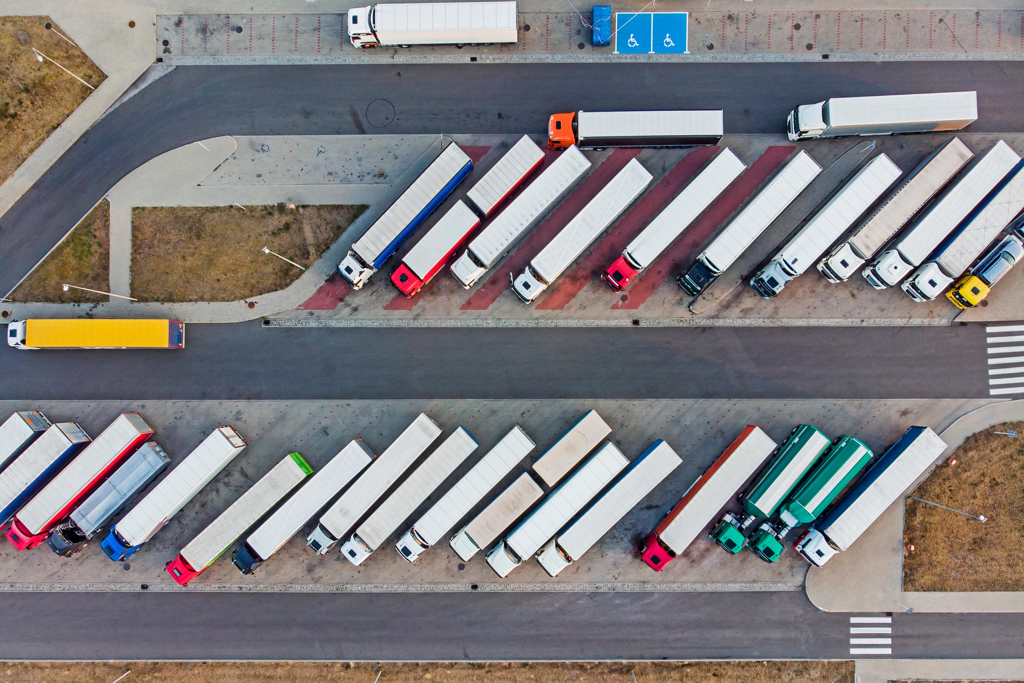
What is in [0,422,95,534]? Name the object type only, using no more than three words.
truck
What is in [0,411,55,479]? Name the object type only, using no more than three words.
truck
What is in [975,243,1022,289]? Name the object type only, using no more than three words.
car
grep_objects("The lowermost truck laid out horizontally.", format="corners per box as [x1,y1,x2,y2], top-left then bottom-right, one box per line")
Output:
[7,319,187,350]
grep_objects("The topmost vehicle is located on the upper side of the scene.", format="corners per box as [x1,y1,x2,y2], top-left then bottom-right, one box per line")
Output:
[348,2,519,48]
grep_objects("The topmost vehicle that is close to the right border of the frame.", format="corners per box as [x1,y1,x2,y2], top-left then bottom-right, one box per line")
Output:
[786,92,978,139]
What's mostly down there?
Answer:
paved ground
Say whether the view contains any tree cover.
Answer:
No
